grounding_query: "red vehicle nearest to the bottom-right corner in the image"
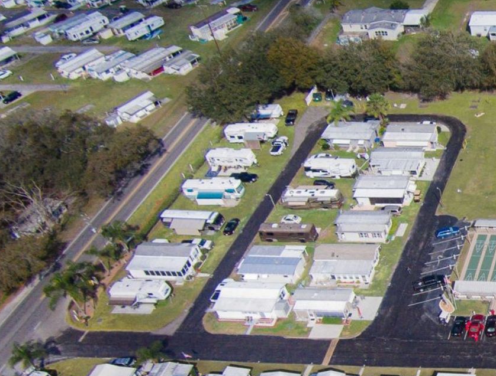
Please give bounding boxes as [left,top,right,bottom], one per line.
[467,316,483,338]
